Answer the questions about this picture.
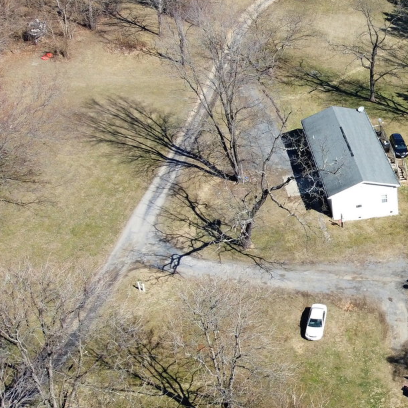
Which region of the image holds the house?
right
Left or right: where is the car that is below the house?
right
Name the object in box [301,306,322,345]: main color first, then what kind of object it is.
white car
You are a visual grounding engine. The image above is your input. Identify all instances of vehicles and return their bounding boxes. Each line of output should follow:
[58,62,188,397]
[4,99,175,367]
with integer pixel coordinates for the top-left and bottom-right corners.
[390,131,408,158]
[301,306,322,345]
